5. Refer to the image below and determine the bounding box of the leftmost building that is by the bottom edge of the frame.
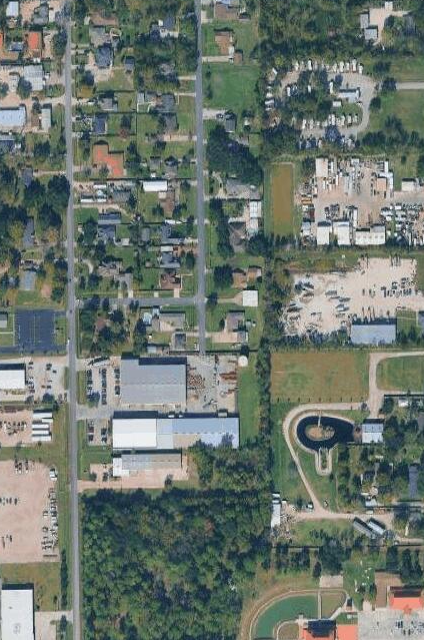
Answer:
[0,589,34,640]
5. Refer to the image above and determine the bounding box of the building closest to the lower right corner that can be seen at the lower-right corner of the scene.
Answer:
[388,589,424,614]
